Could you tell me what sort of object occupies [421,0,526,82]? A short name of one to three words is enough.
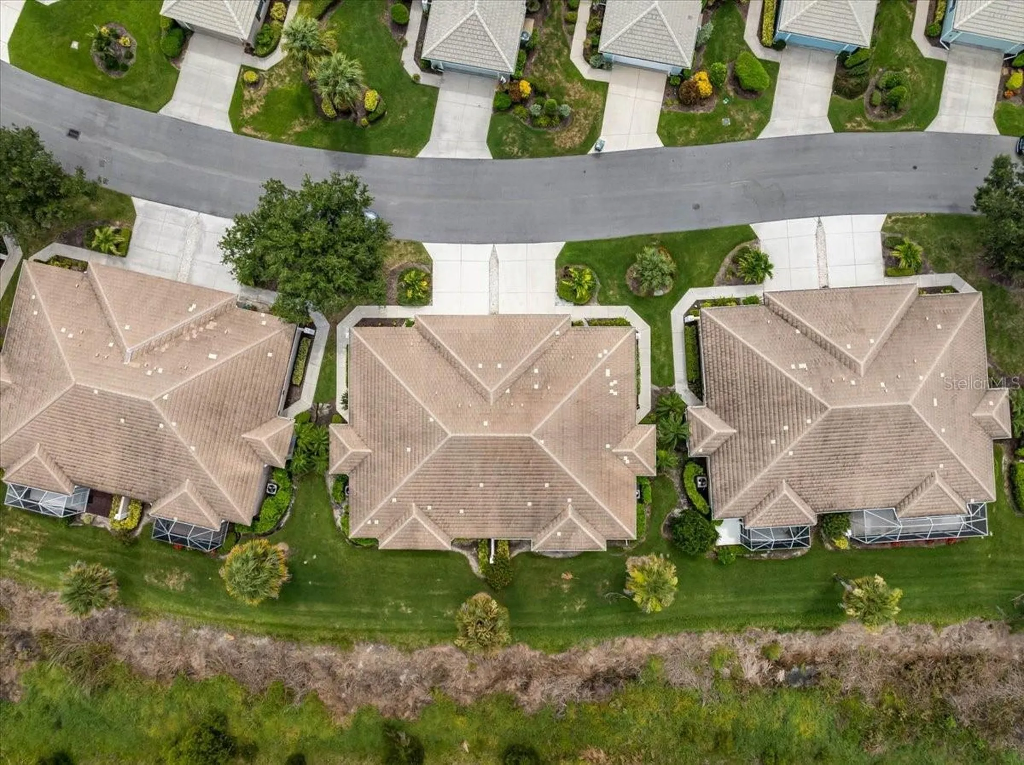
house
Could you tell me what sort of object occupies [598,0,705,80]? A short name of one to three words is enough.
house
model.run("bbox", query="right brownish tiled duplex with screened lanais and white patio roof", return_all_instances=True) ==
[683,281,1015,530]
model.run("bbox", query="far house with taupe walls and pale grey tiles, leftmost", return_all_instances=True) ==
[157,0,269,48]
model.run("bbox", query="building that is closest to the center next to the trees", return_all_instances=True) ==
[328,313,657,551]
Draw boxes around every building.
[0,255,302,533]
[683,281,1015,530]
[937,0,1024,58]
[598,0,705,80]
[773,0,879,54]
[328,313,657,551]
[421,0,526,82]
[157,0,269,48]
